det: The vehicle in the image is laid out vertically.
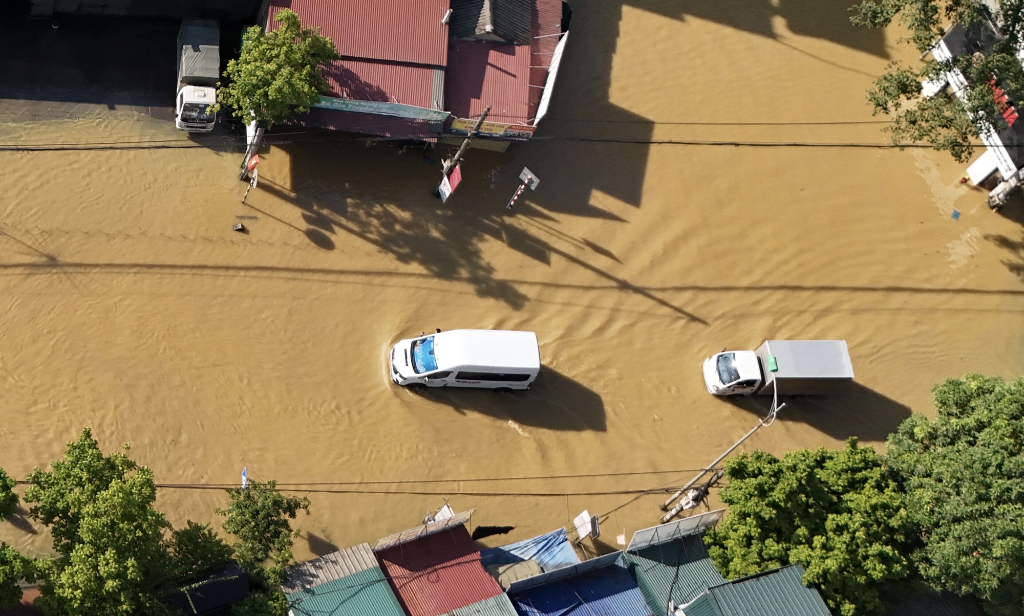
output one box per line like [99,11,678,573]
[173,16,226,135]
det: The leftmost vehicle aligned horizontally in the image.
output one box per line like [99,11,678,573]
[388,329,543,395]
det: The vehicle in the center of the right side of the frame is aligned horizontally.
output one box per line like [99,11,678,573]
[704,339,859,401]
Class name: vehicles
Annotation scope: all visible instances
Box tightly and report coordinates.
[388,329,543,395]
[173,16,226,135]
[704,339,859,401]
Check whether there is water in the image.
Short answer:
Yes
